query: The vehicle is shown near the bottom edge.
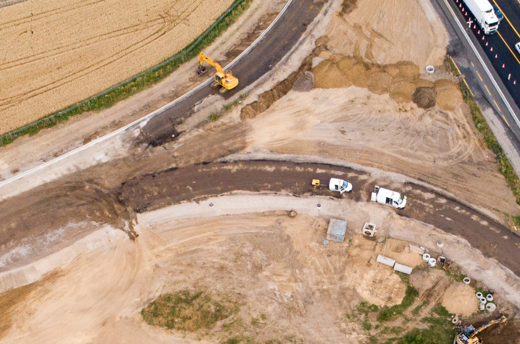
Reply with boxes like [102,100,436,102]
[452,313,509,344]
